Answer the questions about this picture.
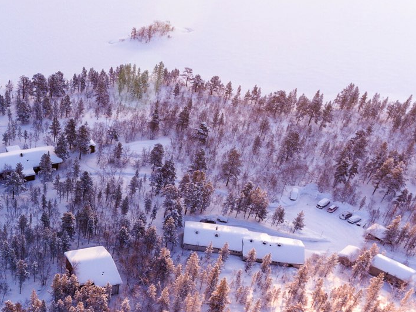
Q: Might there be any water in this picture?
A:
Yes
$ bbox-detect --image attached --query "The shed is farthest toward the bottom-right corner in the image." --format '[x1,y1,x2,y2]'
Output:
[370,252,416,288]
